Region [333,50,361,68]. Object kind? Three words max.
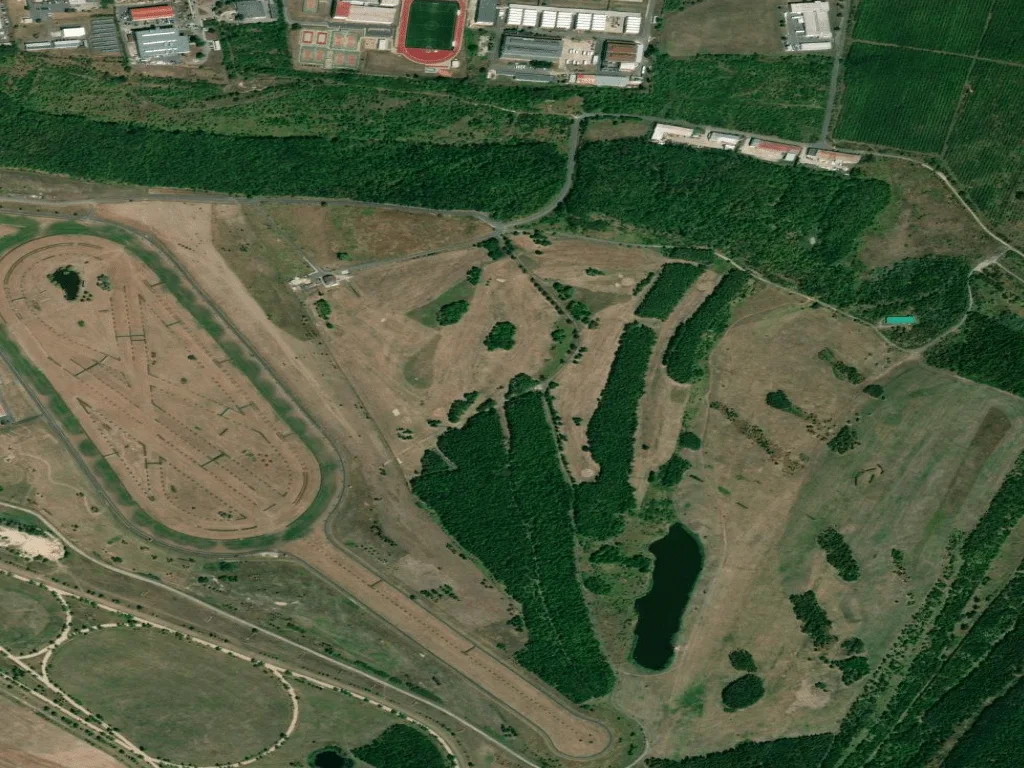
sports court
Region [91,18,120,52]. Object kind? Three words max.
greenhouse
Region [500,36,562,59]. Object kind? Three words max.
building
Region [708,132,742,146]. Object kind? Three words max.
building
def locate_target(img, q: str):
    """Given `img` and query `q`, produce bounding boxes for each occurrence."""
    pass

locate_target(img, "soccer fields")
[405,1,459,50]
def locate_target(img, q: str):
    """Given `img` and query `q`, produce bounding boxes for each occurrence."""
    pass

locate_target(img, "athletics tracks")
[396,0,469,66]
